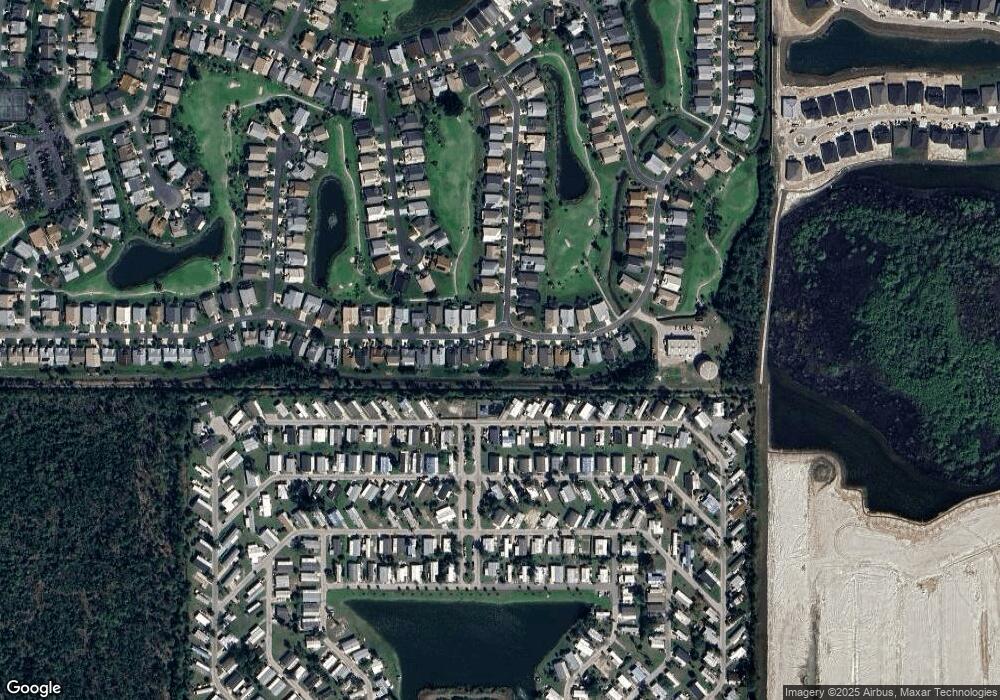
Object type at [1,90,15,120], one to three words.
tennis court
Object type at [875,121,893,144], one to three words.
house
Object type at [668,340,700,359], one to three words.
building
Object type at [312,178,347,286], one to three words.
pond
